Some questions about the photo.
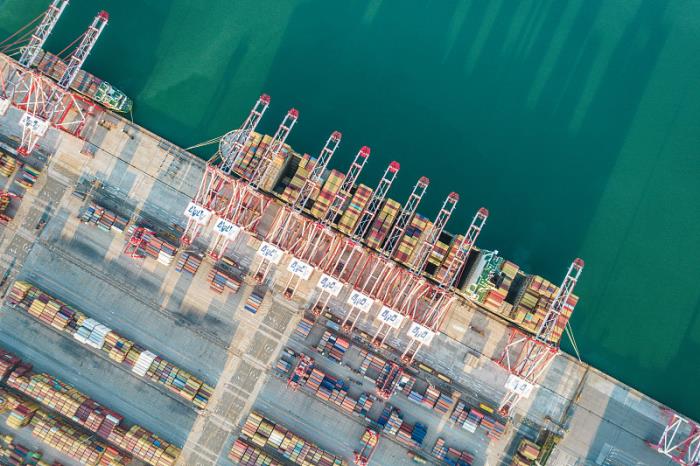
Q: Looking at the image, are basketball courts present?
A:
No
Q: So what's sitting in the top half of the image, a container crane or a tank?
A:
container crane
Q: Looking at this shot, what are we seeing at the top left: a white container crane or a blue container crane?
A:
white container crane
